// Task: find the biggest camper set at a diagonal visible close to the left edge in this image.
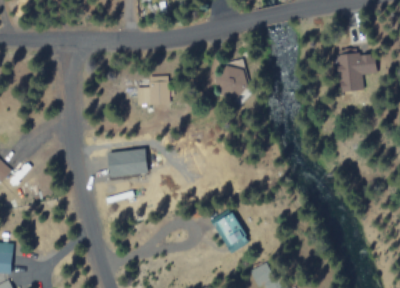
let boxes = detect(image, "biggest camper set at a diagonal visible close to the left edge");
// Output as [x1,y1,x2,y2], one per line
[10,164,31,184]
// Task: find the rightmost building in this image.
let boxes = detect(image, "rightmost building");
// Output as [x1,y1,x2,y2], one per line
[338,54,378,92]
